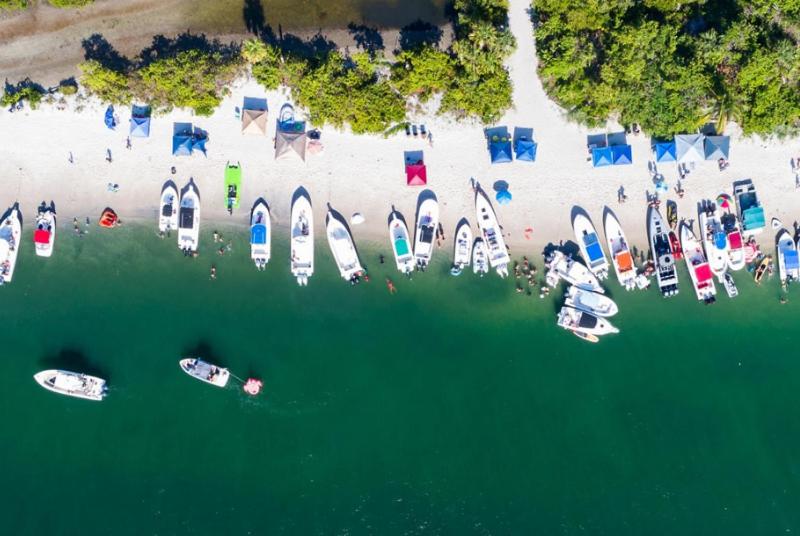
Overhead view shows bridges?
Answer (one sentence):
No, there's no bridge here.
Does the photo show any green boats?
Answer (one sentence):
Yes, looking at the shot, I can spot a green boat.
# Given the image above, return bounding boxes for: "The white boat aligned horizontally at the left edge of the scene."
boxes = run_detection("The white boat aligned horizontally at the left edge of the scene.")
[33,371,116,402]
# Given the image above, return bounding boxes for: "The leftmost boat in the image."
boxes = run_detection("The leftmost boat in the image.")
[0,171,24,290]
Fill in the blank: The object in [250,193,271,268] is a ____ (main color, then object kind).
white boat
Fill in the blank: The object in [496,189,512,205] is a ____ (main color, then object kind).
blue umbrella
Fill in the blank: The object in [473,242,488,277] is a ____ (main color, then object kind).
white boat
